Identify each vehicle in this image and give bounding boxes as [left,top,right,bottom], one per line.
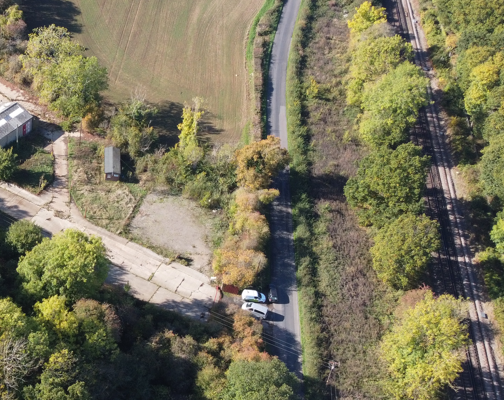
[264,284,282,305]
[241,289,267,304]
[240,303,270,321]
